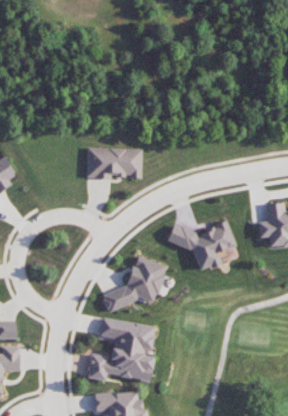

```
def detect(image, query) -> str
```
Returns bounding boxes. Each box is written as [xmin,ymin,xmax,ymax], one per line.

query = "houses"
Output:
[0,323,18,340]
[260,202,288,250]
[89,316,162,386]
[90,392,148,416]
[103,256,172,314]
[88,148,144,180]
[0,158,16,192]
[0,347,20,382]
[170,225,238,270]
